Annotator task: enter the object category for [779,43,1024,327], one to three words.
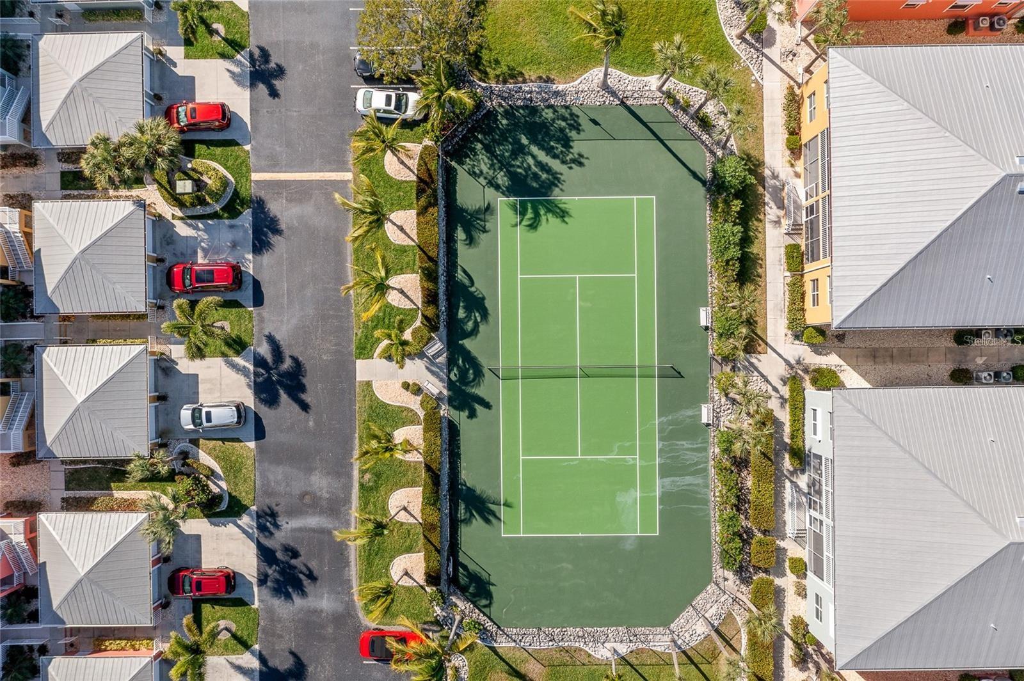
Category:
building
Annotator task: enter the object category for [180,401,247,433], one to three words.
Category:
car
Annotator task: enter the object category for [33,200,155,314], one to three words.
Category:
building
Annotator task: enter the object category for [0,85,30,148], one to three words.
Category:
house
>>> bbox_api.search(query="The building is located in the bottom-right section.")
[781,385,1024,669]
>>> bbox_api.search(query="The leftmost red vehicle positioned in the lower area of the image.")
[168,566,237,600]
